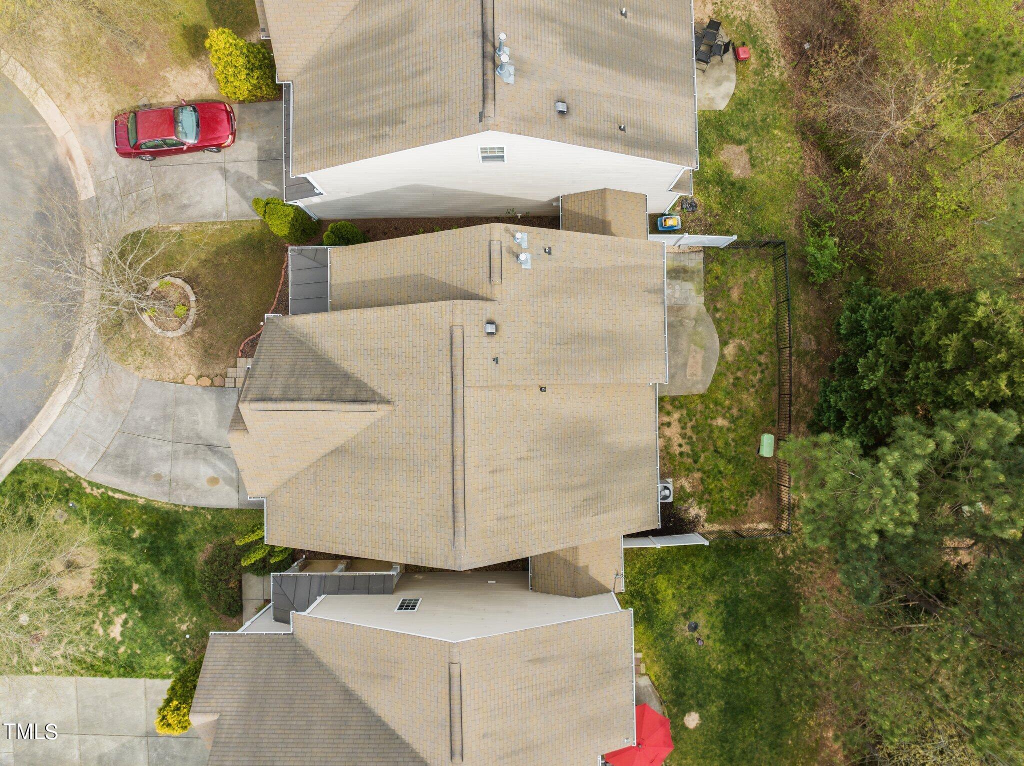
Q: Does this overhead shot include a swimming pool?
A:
No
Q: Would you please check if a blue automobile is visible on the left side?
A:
No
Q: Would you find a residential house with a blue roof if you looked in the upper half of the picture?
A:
No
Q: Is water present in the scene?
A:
No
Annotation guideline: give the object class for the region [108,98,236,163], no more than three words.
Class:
car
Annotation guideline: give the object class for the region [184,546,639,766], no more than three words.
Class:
house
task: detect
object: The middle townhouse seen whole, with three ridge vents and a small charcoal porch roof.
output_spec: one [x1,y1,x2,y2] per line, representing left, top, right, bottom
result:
[225,223,671,569]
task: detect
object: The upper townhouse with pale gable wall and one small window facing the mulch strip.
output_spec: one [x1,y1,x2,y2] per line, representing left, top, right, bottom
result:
[246,0,701,240]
